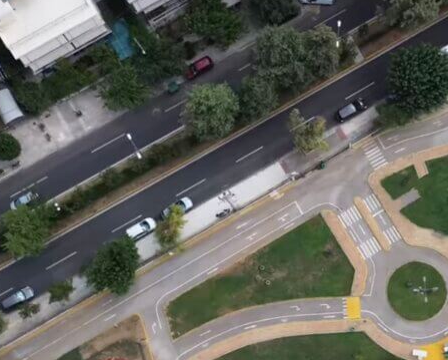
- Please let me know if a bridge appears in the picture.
No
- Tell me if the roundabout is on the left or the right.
right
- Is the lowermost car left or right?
left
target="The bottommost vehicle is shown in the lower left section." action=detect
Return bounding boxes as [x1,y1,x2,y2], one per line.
[2,286,36,311]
